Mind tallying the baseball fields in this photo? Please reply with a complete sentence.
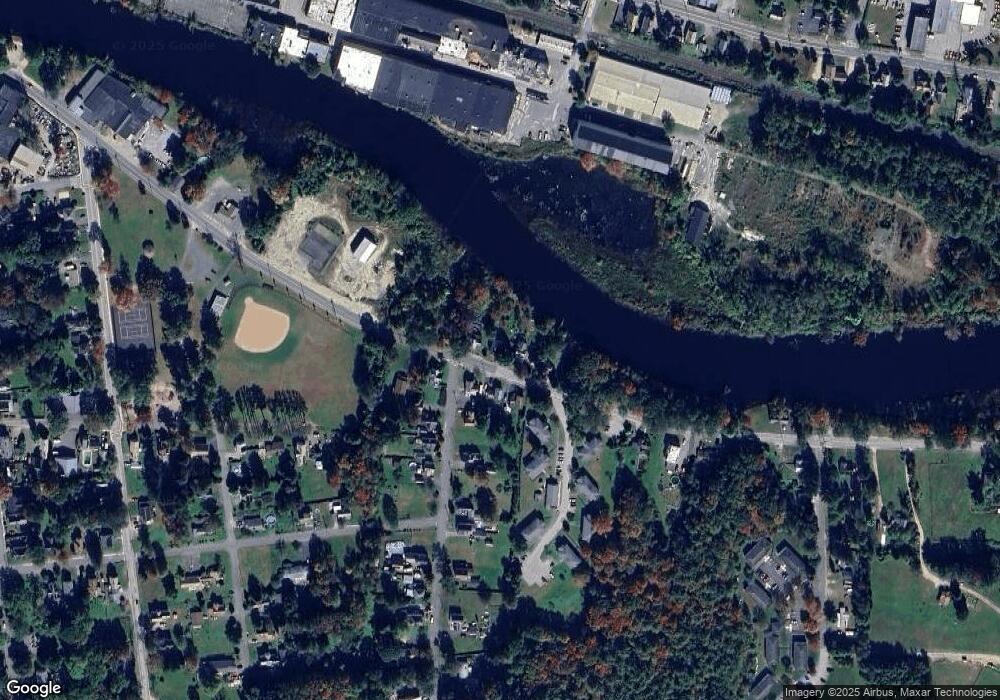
The picture shows 1 baseball field.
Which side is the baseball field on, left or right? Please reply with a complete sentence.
The baseball field appears in the left half of the scene.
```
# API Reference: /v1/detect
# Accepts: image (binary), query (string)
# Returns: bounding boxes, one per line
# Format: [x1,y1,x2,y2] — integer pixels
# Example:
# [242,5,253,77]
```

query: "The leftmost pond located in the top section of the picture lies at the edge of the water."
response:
[482,155,654,253]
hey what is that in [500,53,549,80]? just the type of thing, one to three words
building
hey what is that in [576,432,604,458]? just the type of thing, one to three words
house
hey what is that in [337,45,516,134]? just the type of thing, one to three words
building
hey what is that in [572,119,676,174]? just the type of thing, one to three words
shed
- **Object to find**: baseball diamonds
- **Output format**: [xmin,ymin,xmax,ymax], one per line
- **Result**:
[216,281,363,430]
